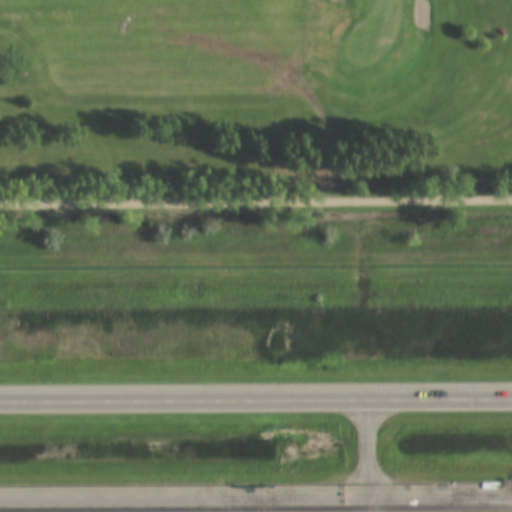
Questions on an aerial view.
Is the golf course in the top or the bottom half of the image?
top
